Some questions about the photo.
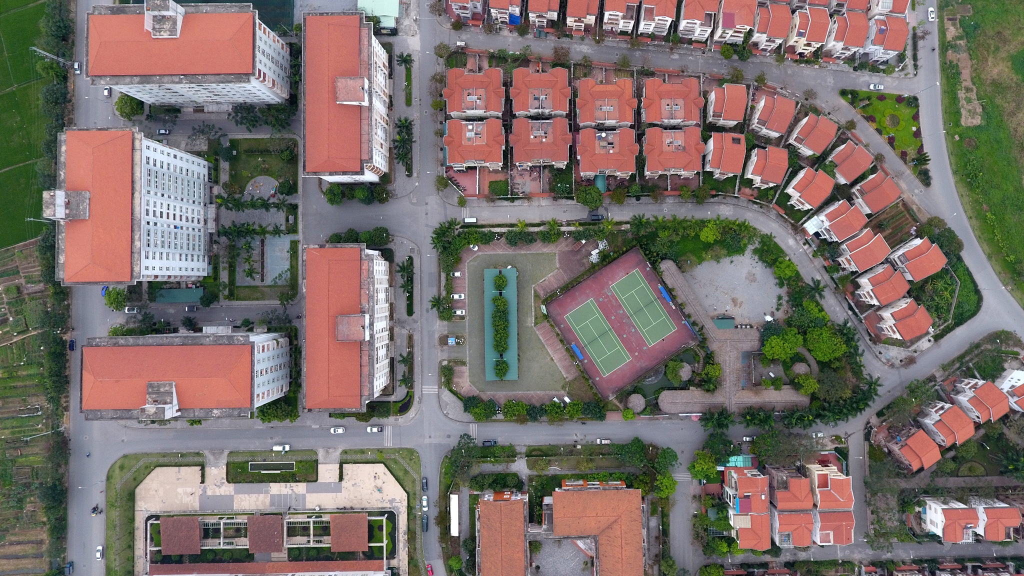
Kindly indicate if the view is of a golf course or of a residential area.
residential area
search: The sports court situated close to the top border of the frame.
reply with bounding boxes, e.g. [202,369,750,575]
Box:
[215,0,293,33]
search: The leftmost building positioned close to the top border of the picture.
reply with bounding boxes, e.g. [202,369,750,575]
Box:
[83,0,287,118]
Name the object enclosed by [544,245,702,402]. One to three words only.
tennis court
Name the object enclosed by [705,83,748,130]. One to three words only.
house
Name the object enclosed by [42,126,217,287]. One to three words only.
building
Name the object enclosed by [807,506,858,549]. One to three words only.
house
